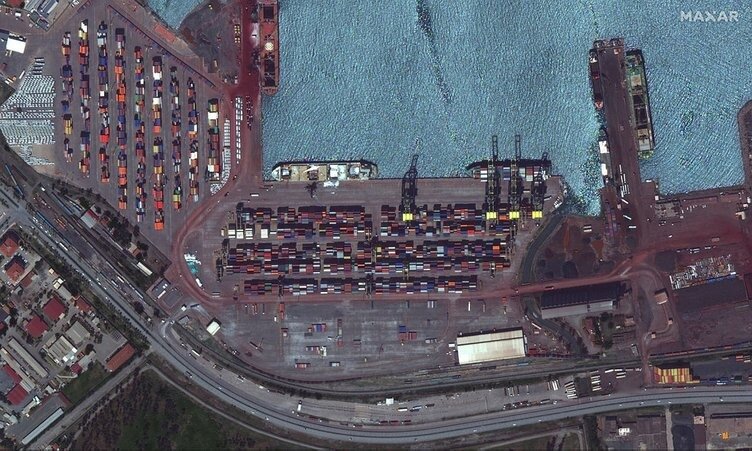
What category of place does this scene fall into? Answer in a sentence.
The area seen from above is a port.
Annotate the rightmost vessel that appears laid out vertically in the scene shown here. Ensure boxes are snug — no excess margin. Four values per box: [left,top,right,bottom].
[625,48,654,158]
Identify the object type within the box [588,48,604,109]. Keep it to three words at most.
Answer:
ship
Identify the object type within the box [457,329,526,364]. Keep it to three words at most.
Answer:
building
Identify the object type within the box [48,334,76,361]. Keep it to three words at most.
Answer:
building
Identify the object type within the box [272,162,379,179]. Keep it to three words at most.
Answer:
ship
